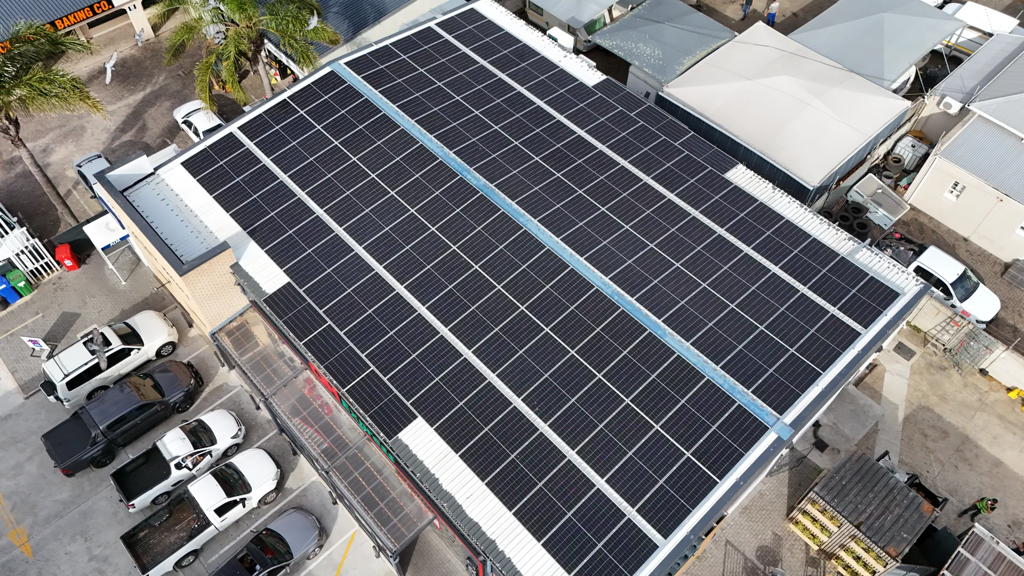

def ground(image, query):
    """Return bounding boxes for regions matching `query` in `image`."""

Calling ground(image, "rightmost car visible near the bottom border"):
[201,509,322,576]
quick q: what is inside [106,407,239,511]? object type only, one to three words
vehicle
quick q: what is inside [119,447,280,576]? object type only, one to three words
vehicle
